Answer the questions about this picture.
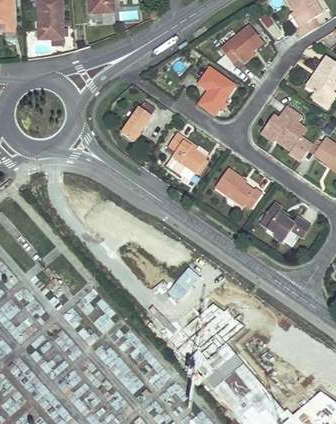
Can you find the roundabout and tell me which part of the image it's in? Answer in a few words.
top left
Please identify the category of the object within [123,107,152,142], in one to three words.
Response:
house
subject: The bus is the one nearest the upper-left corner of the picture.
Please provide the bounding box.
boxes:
[152,34,180,55]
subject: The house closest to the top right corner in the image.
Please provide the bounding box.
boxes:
[288,0,324,38]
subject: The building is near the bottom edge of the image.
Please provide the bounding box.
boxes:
[161,296,336,424]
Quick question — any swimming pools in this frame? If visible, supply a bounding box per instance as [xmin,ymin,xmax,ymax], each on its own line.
[36,44,51,54]
[173,60,187,74]
[271,0,285,9]
[119,10,140,22]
